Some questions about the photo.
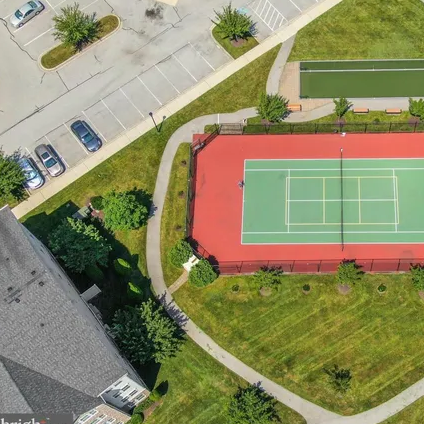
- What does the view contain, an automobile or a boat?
automobile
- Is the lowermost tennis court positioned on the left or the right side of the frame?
right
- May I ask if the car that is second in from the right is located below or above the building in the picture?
above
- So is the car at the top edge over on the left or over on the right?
left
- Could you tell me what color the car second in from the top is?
blue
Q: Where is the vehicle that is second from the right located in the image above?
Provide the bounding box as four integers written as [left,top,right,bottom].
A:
[31,142,64,177]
